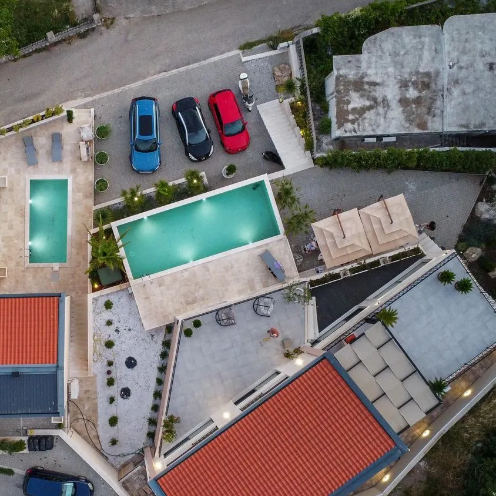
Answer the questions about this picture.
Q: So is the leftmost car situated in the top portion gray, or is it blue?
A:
blue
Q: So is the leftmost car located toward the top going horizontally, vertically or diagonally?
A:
vertically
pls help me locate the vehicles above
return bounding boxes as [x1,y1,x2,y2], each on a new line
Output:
[22,468,95,496]
[240,72,257,112]
[127,96,163,174]
[170,96,214,165]
[206,87,250,158]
